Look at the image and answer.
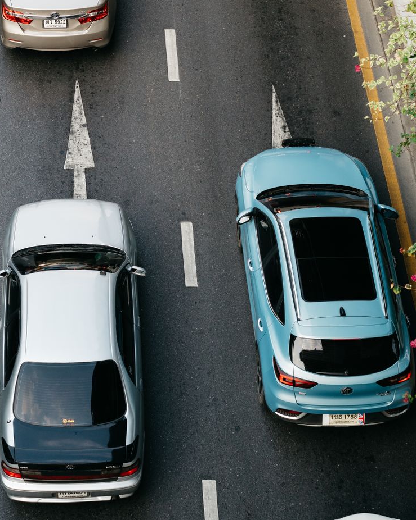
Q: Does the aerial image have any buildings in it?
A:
No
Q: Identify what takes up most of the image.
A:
paved ground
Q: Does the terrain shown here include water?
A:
No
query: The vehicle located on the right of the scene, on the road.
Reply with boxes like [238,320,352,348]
[233,148,416,425]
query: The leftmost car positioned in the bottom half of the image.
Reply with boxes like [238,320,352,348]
[0,204,148,499]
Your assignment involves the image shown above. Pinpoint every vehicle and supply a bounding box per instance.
[233,148,416,425]
[0,204,148,499]
[0,0,117,49]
